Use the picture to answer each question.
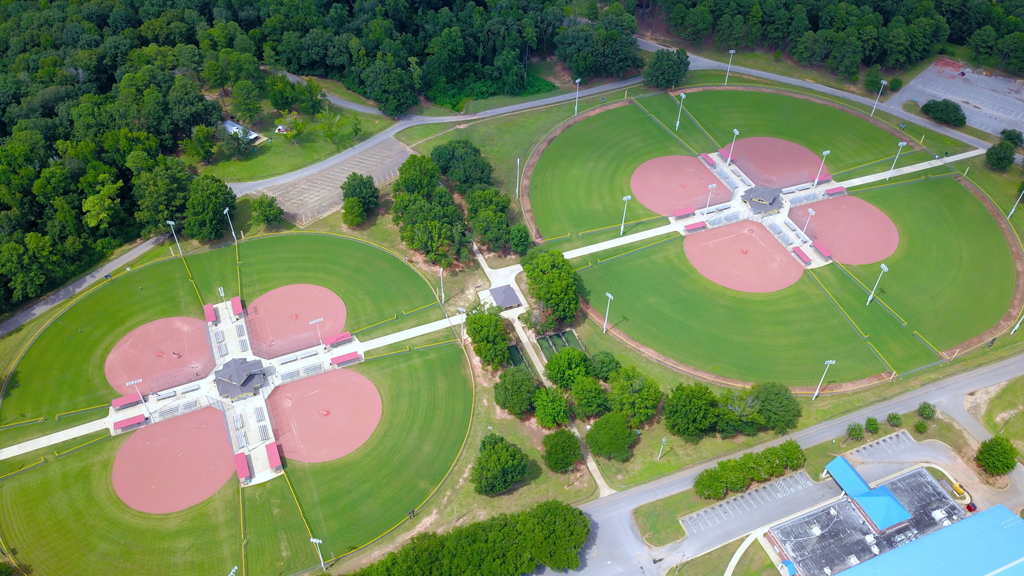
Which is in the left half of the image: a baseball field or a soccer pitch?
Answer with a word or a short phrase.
baseball field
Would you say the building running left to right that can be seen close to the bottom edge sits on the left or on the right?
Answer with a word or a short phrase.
right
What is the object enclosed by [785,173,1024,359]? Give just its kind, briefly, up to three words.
baseball field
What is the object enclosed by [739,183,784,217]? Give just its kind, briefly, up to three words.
building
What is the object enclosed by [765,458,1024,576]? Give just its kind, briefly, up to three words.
building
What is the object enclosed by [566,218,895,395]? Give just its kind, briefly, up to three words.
baseball field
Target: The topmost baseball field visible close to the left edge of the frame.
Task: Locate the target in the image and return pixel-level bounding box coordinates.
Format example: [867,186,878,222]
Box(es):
[0,254,220,428]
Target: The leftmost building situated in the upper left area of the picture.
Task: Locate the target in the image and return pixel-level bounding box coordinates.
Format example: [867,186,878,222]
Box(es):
[221,120,266,148]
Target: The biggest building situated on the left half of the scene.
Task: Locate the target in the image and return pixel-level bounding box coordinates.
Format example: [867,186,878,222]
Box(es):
[211,353,267,401]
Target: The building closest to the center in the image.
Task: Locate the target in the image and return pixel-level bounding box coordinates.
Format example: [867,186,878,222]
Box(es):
[491,284,521,313]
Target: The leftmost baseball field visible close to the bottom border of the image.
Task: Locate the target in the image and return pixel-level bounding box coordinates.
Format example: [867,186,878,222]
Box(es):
[0,403,248,576]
